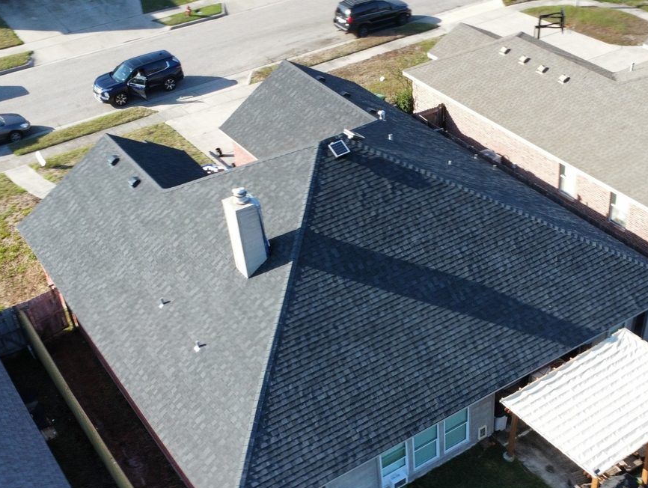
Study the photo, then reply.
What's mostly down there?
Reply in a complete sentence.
Most of the picture is covered by buildings.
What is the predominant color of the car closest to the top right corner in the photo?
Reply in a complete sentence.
From above, the car closest to the top right corner appears black.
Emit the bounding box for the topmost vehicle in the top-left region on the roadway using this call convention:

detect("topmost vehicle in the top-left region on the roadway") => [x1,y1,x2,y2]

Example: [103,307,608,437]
[83,44,185,104]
